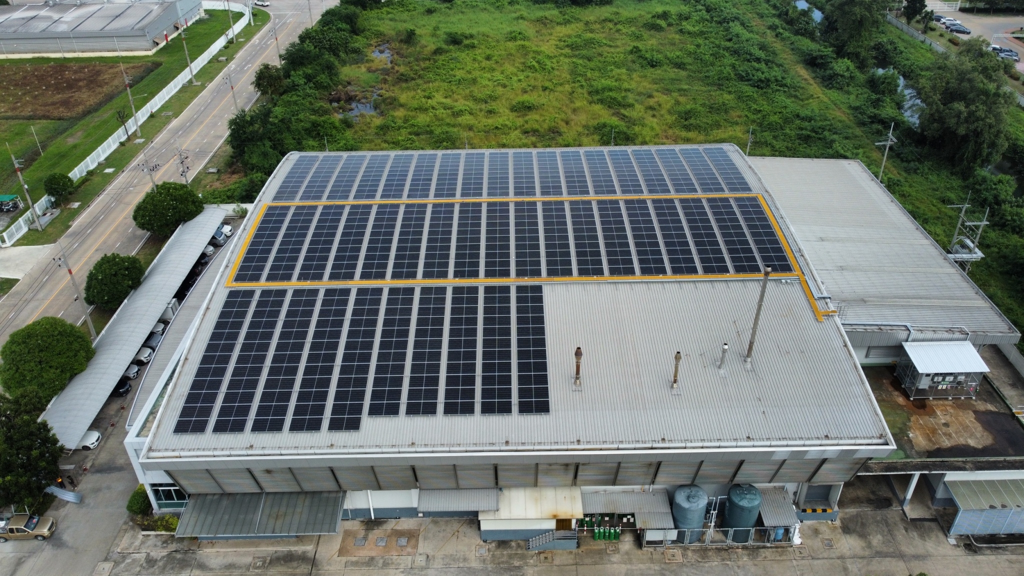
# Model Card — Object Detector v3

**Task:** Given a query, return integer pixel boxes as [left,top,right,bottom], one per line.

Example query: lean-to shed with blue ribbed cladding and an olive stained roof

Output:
[927,478,1024,543]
